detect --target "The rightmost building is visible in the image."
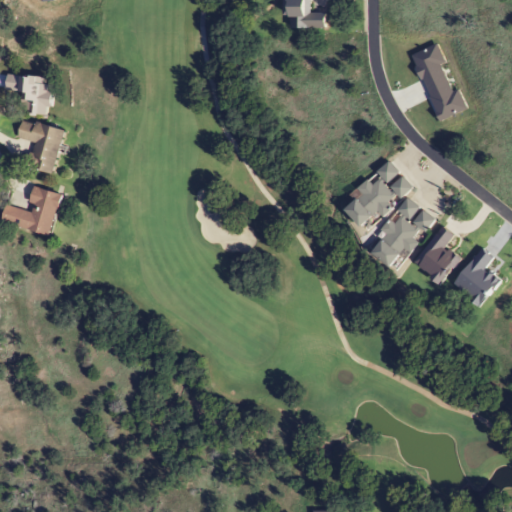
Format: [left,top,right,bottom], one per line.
[455,249,504,304]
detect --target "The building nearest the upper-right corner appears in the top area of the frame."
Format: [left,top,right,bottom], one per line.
[410,44,468,119]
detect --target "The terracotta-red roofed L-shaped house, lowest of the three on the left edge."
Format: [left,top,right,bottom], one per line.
[2,186,62,234]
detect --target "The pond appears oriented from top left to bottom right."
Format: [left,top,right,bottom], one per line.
[356,401,468,496]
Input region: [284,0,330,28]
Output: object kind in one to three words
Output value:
house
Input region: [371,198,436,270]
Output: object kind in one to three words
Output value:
house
